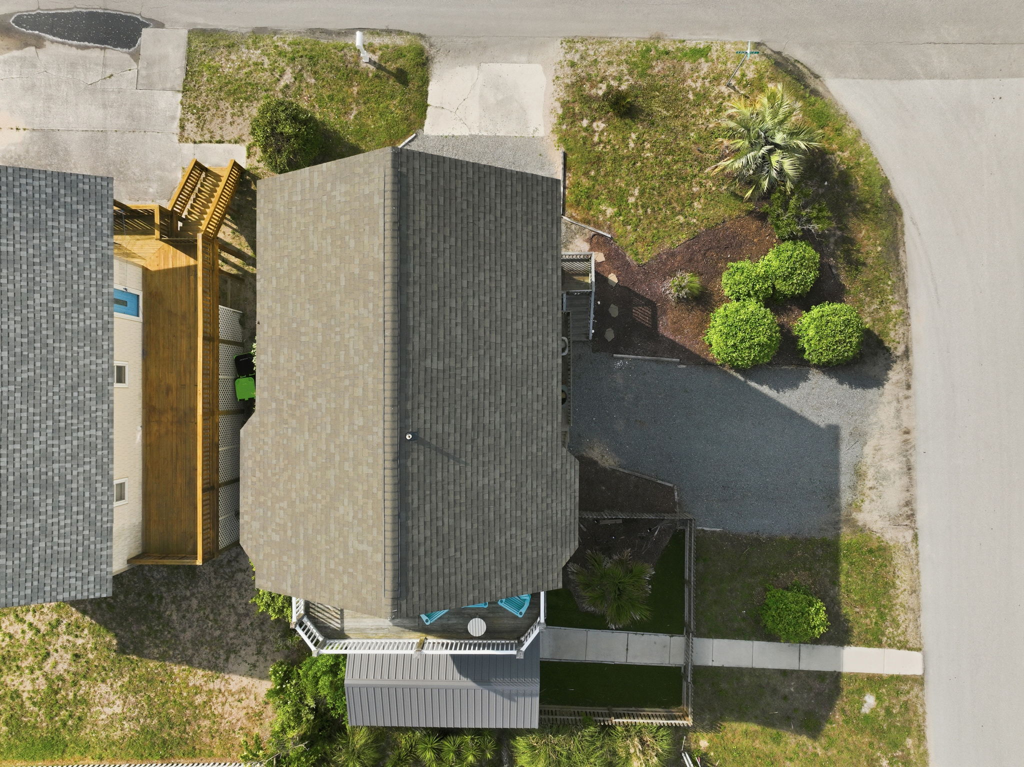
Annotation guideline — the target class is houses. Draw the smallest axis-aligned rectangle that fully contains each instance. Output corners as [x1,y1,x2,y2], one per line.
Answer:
[240,146,579,621]
[0,166,145,608]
